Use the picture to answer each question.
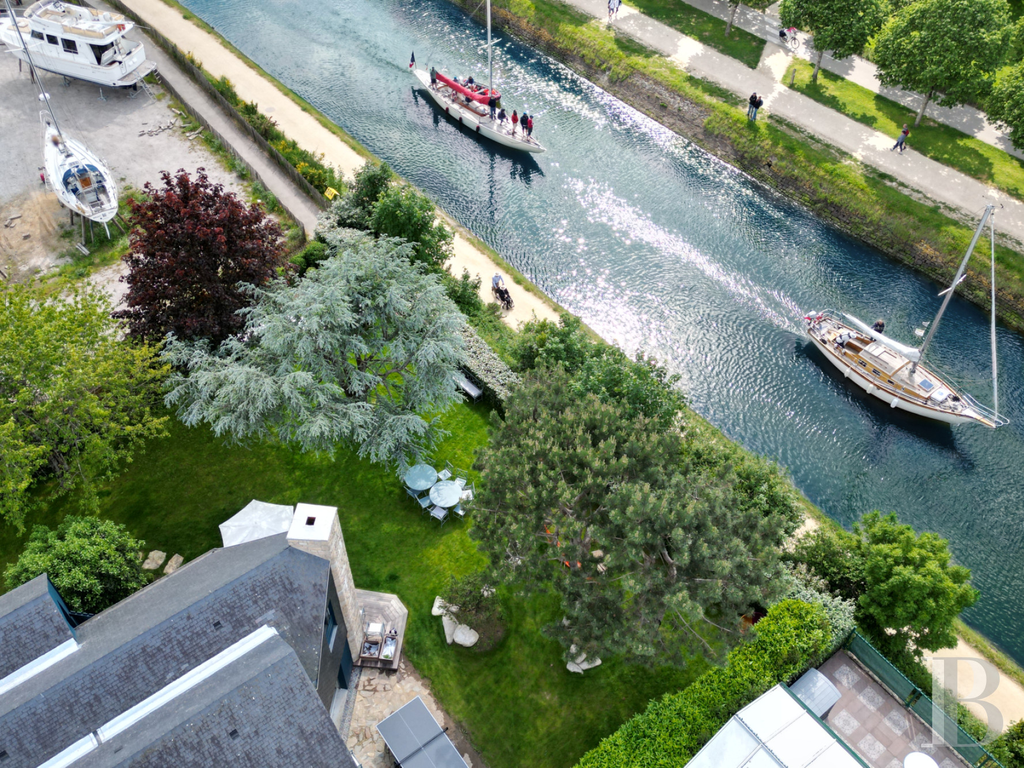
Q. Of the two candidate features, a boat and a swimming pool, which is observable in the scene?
boat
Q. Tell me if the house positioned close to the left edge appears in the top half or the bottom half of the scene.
bottom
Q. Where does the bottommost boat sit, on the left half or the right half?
right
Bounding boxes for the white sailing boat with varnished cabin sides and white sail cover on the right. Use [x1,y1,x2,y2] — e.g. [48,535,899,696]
[805,194,1007,436]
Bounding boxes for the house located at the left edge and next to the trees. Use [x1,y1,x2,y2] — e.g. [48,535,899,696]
[0,501,371,768]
